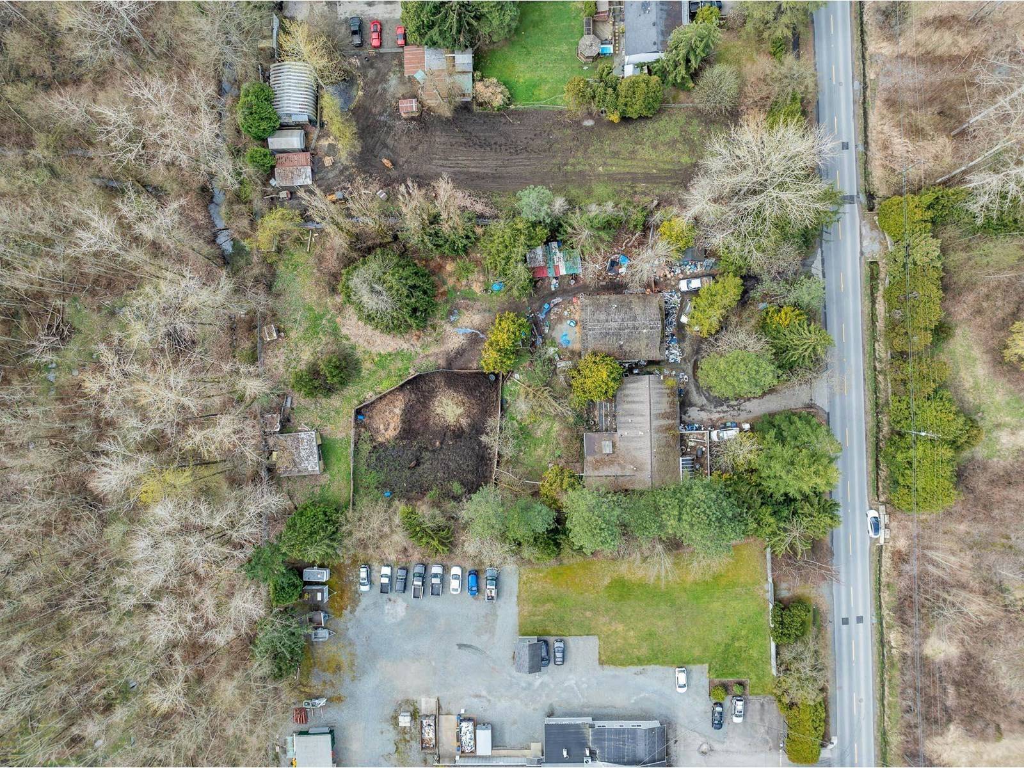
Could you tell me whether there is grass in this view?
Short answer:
Yes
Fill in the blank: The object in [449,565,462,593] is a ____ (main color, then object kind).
white vehicle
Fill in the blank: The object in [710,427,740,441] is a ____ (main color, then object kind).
white vehicle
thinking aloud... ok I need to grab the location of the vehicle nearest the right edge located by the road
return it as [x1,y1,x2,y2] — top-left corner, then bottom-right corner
[865,509,881,538]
